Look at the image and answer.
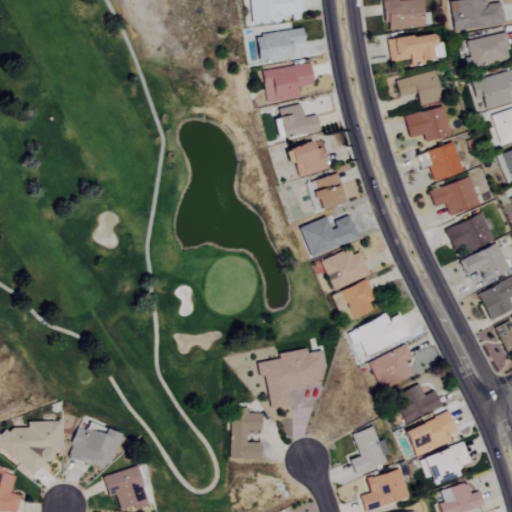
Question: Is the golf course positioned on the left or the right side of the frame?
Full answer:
The golf course sits on the left side.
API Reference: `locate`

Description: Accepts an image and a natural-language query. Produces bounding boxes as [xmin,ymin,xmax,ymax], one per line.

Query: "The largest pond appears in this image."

[176,121,287,309]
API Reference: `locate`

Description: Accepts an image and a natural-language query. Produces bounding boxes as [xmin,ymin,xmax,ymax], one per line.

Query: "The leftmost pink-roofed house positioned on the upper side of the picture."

[262,63,314,102]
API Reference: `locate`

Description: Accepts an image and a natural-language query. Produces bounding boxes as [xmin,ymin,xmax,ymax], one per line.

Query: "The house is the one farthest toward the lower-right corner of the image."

[442,482,486,512]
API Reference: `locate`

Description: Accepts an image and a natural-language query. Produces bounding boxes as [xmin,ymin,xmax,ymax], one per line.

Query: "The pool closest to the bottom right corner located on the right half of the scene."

[399,437,414,458]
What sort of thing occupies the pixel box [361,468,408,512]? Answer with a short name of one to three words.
house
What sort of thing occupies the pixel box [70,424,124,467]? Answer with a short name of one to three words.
house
